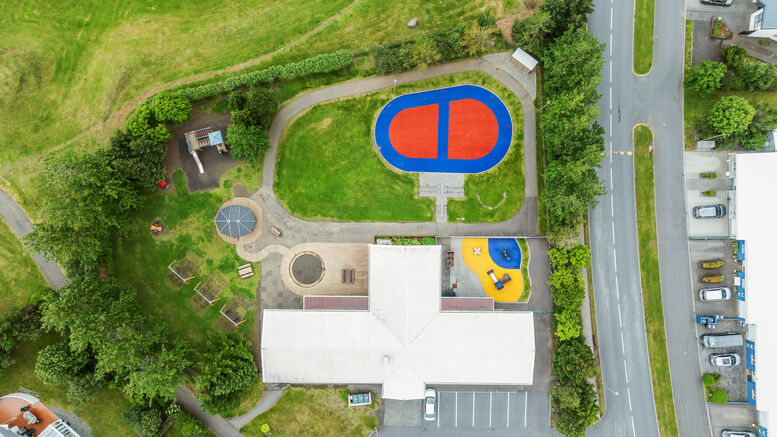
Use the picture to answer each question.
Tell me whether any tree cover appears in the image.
Yes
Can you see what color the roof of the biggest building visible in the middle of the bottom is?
white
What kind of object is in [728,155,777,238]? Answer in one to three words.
house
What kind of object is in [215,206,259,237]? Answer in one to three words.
gazebo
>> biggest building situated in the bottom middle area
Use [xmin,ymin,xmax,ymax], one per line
[260,244,536,400]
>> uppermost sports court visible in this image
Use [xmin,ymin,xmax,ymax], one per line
[374,84,513,173]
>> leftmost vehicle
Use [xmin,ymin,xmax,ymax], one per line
[423,388,438,421]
